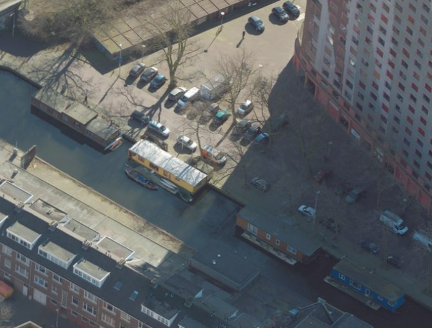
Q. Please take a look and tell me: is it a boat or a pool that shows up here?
boat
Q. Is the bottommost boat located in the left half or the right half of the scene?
right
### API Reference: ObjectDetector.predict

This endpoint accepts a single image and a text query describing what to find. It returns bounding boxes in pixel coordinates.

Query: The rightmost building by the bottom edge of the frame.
[285,283,384,328]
